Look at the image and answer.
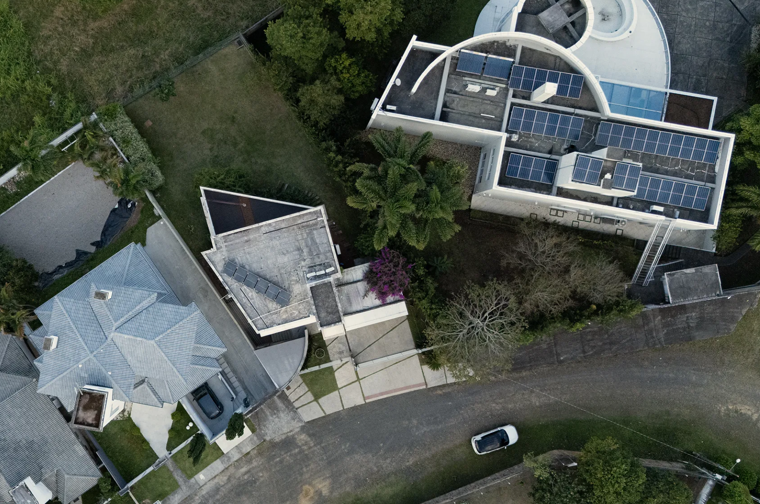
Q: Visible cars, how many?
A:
2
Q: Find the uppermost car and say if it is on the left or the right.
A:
left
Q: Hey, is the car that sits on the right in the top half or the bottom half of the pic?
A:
bottom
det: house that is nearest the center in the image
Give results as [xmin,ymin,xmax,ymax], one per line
[198,186,408,340]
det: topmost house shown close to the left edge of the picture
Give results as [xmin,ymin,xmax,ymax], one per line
[29,243,227,409]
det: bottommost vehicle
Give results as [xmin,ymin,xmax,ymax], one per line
[470,423,520,457]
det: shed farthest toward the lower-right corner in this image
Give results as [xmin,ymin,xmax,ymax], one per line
[653,265,723,304]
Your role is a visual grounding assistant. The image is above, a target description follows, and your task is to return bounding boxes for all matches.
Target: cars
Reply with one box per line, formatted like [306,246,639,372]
[470,423,520,457]
[192,380,227,427]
